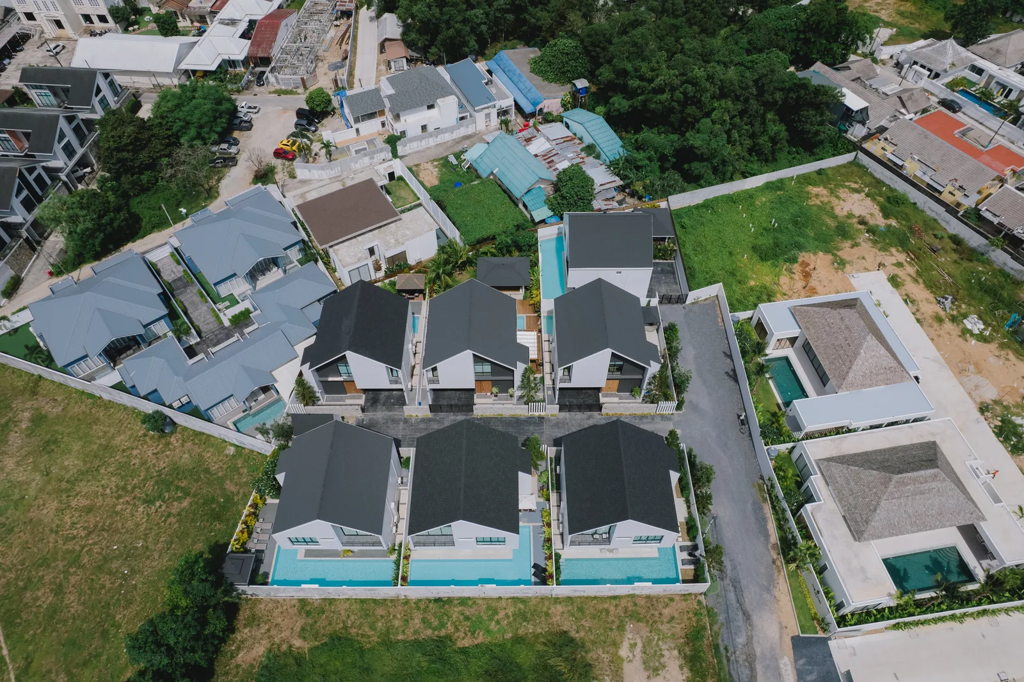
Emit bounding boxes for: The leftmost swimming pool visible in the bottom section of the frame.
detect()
[231,398,288,436]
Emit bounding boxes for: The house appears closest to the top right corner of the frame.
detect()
[966,28,1024,75]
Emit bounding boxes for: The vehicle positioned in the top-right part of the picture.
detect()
[935,100,962,114]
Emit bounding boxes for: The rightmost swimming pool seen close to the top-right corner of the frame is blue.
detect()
[955,90,1010,119]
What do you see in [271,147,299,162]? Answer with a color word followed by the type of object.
red car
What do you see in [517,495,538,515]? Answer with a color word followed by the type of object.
white umbrella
